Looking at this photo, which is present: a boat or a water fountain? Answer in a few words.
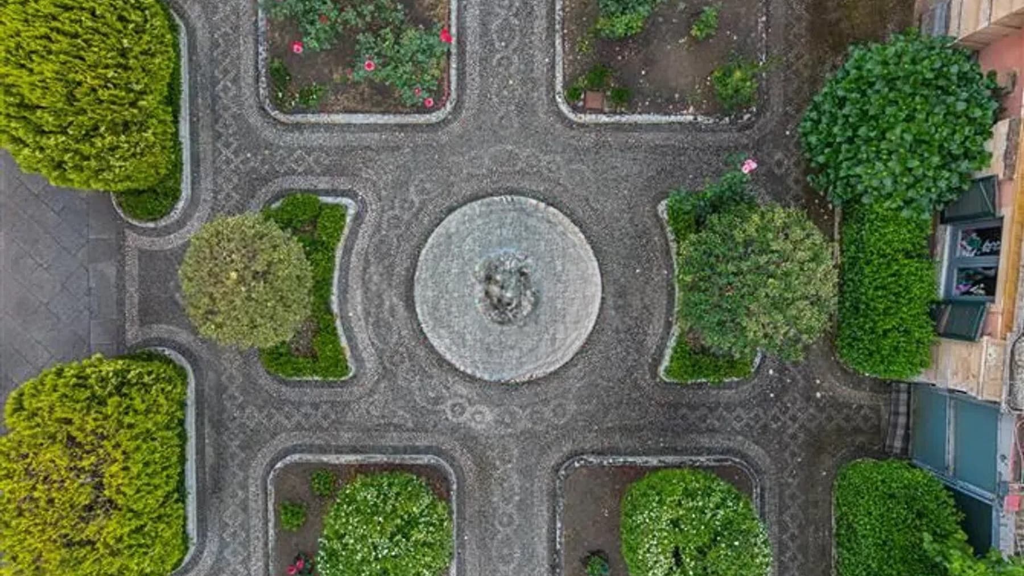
water fountain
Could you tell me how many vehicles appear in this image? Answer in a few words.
none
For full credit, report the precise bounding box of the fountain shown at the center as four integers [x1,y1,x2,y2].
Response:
[414,195,602,383]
